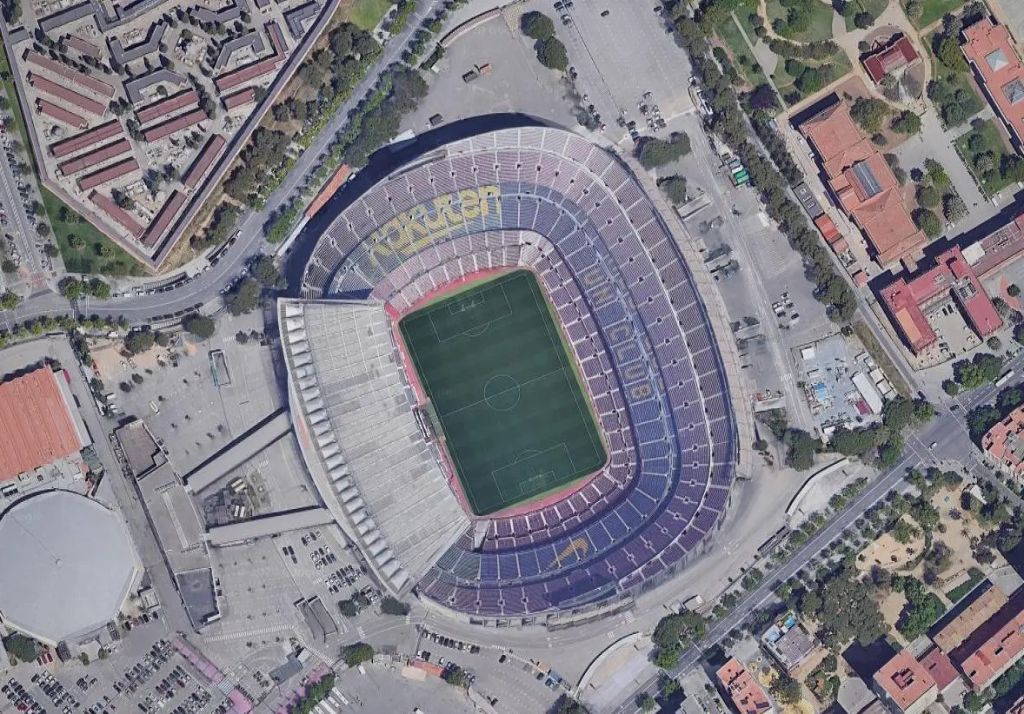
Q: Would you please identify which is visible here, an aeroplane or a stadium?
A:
stadium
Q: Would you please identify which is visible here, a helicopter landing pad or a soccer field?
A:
soccer field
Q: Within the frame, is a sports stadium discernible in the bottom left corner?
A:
Yes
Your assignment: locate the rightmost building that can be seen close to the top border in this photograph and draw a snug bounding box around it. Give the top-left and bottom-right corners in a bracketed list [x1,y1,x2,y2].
[959,16,1024,164]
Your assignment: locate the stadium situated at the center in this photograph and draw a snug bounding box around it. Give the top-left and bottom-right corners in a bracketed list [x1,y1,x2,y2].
[277,118,764,638]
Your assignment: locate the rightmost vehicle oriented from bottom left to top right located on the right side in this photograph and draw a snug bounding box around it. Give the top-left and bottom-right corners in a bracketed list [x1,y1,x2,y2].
[994,373,1012,388]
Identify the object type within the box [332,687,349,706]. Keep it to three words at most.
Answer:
vehicle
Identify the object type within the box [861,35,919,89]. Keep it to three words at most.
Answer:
house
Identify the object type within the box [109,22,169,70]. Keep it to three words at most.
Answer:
building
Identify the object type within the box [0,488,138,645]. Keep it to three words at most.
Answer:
stadium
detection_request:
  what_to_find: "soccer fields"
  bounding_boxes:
[396,264,610,524]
